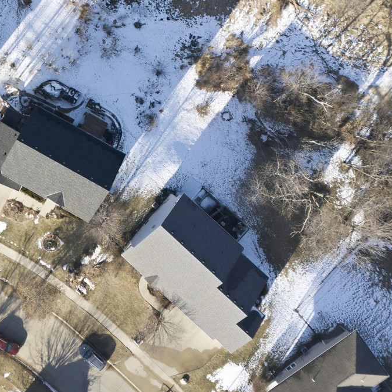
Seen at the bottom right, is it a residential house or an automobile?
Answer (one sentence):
You can see a residential house at the bottom right.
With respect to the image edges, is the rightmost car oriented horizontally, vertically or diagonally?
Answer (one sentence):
The rightmost car is laid out diagonally.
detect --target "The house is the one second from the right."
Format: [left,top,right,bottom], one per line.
[121,193,269,354]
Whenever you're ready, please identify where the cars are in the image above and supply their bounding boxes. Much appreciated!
[0,335,22,359]
[75,343,111,376]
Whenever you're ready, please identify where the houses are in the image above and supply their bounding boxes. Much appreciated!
[262,327,390,392]
[0,105,126,222]
[121,193,269,354]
